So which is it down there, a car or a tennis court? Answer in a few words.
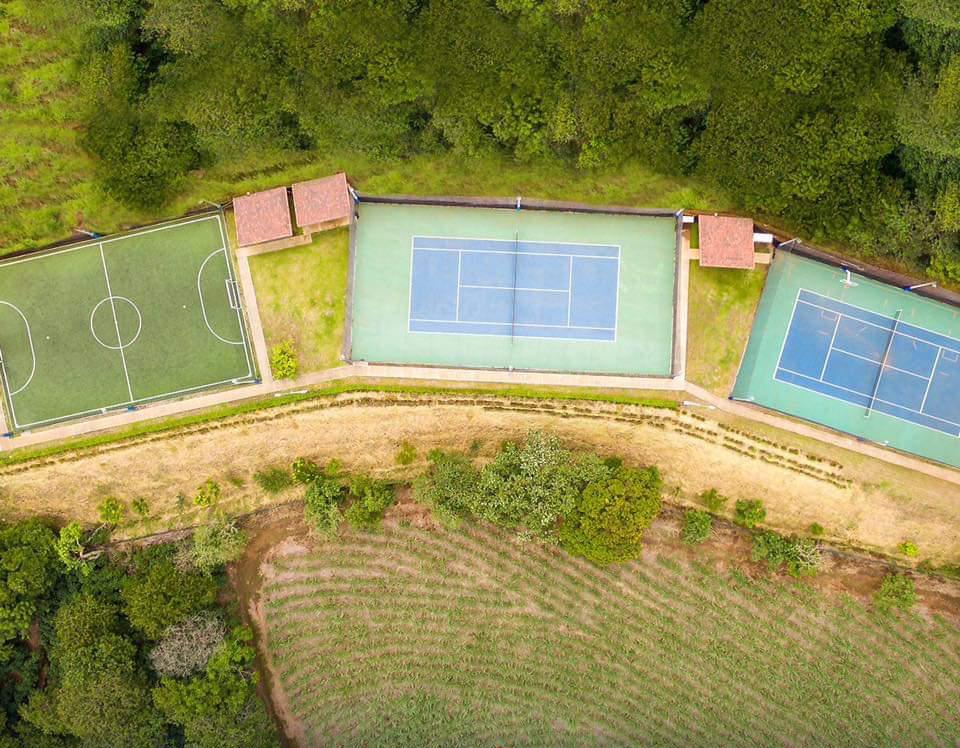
tennis court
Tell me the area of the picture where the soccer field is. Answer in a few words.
left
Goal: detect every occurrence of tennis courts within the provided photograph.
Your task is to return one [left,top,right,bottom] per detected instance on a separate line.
[350,203,676,377]
[734,250,960,468]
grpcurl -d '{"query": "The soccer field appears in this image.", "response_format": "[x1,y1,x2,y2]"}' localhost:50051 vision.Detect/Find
[0,208,262,435]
